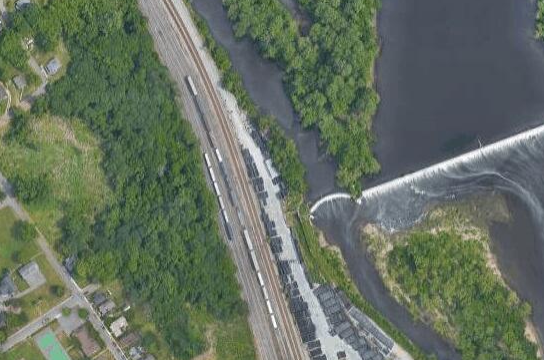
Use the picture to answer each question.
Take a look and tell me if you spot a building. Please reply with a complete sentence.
Yes, there is a building in the image.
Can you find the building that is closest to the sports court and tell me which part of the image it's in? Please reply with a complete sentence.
The building that is closest to the sports court is located in the bottom left region of the scene.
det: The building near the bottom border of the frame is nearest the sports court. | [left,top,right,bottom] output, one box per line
[76,330,101,358]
